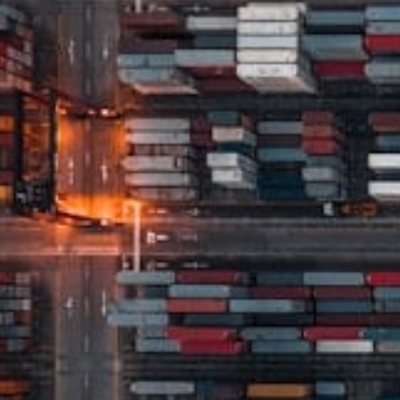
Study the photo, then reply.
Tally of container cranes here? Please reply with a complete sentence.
There is 1 container crane in the image.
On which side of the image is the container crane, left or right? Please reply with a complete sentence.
The container crane sits on the left side.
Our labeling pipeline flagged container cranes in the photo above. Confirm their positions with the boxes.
[10,73,124,226]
